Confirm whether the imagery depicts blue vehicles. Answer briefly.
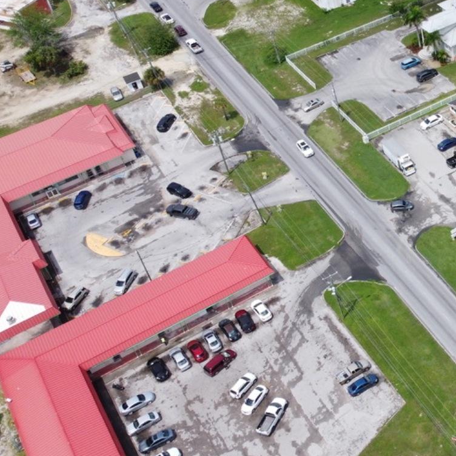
Yes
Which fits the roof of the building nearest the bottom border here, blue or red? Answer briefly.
red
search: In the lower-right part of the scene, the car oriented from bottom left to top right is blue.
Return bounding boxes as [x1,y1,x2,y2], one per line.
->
[348,374,381,398]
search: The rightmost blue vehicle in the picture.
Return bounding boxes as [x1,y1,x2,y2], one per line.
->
[438,136,456,151]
